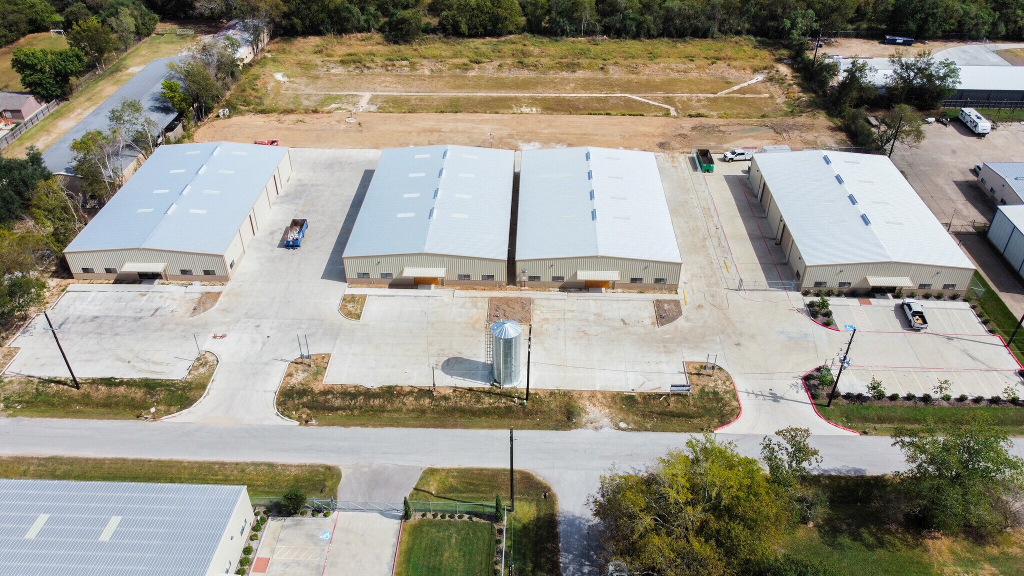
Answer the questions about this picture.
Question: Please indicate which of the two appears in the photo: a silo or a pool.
silo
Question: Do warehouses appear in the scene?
Yes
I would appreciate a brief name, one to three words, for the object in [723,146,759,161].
vehicle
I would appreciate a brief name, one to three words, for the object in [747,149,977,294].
warehouse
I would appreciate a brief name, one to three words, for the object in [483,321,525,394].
silo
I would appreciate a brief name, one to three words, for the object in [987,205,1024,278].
building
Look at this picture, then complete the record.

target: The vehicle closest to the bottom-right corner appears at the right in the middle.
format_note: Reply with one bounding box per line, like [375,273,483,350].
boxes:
[900,298,931,328]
